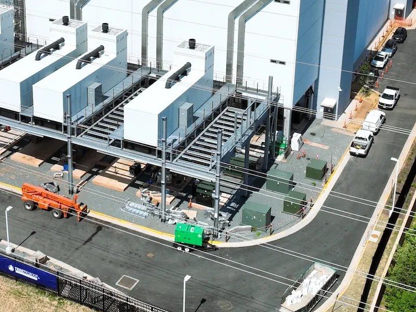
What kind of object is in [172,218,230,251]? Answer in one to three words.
trailer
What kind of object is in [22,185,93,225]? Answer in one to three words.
work vehicle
